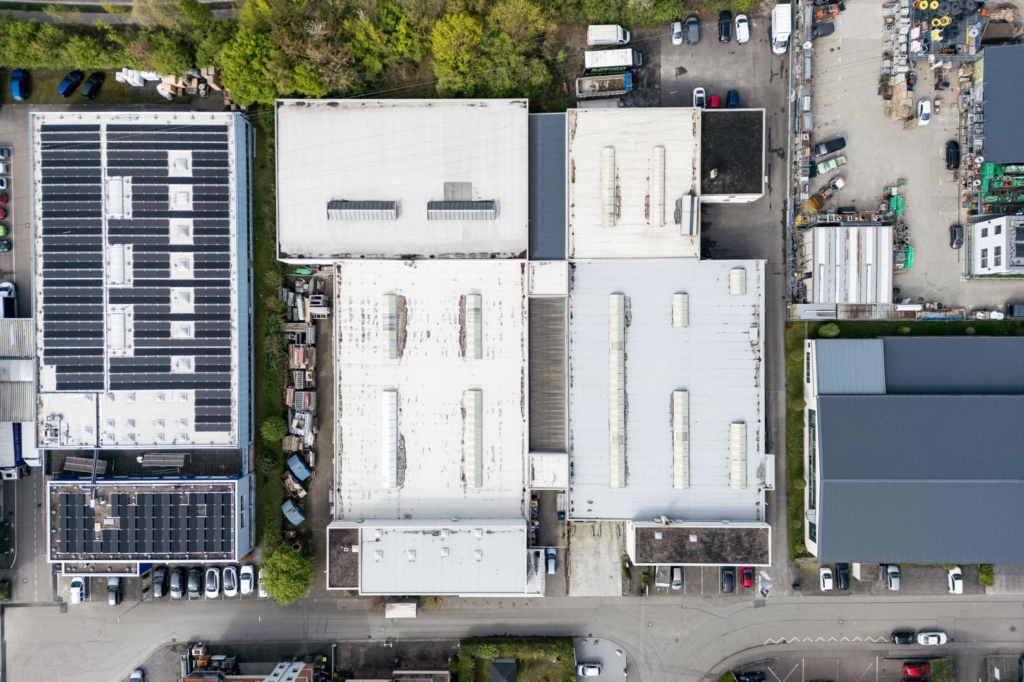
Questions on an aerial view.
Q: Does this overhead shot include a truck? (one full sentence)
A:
Yes, the picture does show a truck.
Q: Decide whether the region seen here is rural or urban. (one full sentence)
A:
From above, the setting appears urban.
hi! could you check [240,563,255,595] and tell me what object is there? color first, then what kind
white car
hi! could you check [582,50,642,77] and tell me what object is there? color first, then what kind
white truck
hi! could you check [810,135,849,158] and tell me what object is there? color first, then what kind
black vehicle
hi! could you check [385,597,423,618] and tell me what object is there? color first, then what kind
white trailer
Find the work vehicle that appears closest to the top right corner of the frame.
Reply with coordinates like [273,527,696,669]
[935,75,954,91]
